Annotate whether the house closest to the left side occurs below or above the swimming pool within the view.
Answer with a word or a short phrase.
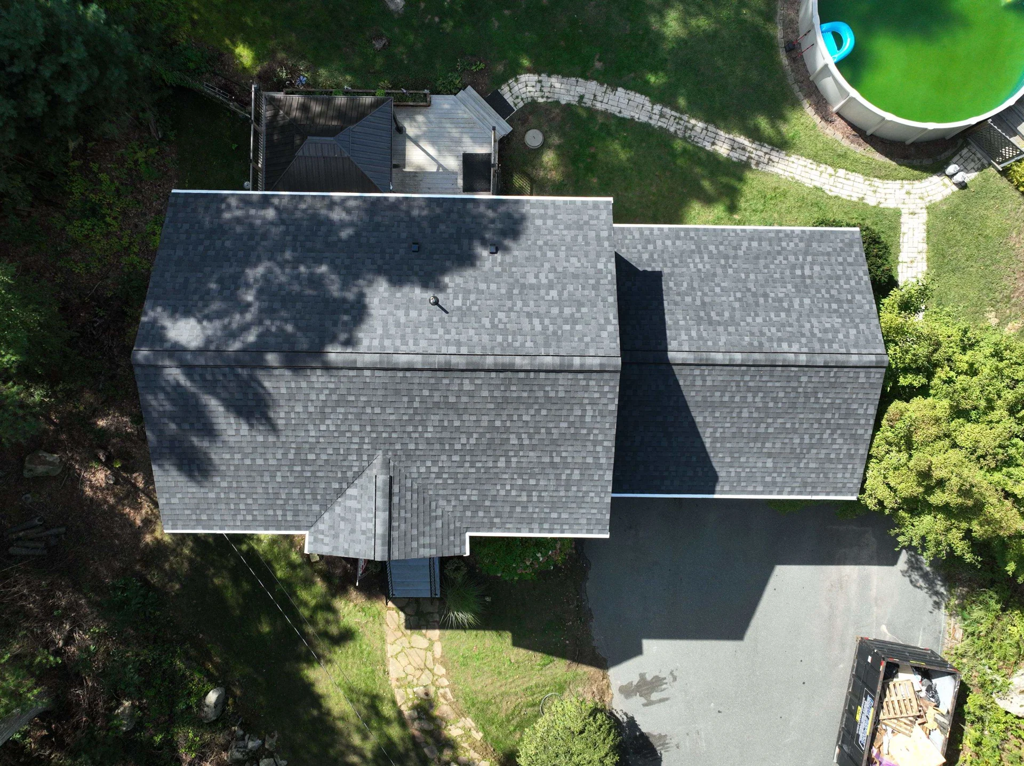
below it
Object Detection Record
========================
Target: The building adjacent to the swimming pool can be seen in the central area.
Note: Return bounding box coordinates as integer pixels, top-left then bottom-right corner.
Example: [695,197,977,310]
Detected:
[133,188,887,562]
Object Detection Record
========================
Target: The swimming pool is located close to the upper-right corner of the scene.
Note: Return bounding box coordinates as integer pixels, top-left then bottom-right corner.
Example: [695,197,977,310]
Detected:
[797,0,1024,144]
